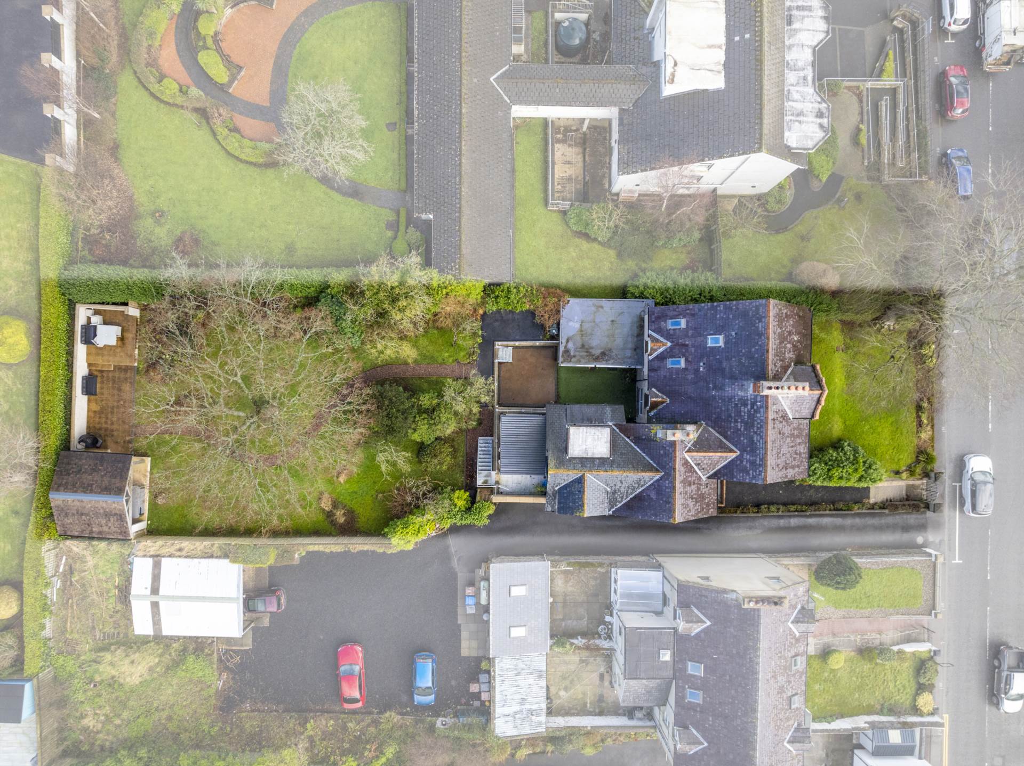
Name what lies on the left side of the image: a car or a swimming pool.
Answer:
car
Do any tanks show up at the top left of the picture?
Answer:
No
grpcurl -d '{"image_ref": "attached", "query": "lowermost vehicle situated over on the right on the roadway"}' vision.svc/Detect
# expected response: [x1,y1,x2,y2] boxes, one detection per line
[988,644,1024,714]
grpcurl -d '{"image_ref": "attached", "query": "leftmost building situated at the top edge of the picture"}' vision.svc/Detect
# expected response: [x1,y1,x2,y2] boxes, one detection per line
[412,0,515,284]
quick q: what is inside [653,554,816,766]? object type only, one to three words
house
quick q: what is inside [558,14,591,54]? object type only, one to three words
storage tank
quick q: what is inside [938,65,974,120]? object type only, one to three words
car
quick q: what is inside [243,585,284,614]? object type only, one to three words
car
